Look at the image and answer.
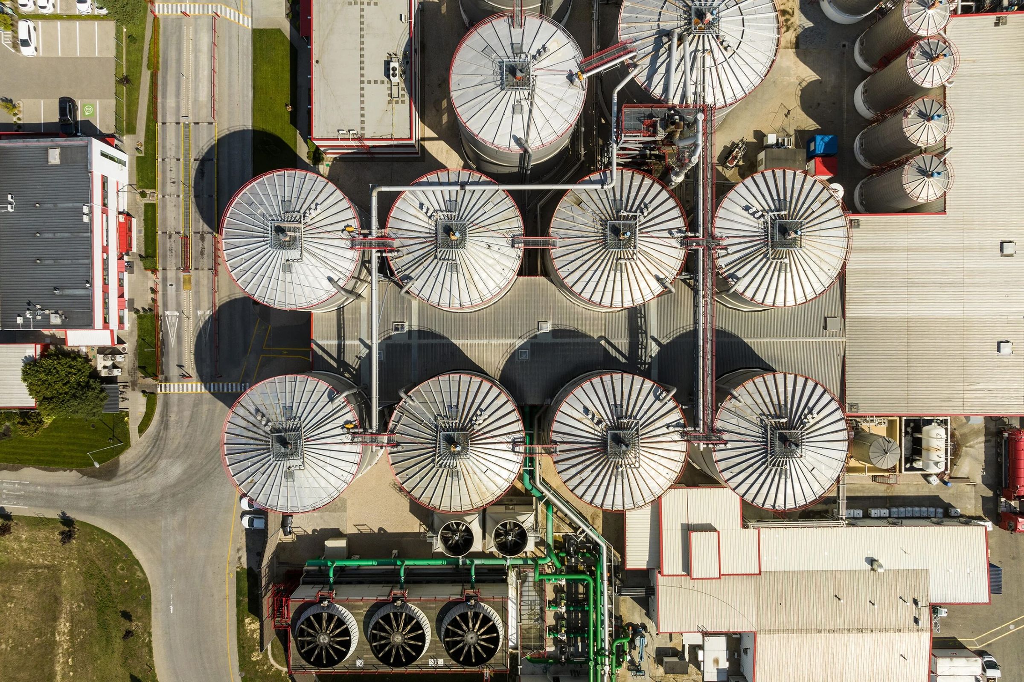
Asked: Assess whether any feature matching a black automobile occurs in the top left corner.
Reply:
Yes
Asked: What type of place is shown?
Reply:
industrial area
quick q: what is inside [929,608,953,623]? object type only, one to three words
work vehicle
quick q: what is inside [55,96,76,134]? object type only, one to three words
car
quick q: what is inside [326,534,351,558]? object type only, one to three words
shed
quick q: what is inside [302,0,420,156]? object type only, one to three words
building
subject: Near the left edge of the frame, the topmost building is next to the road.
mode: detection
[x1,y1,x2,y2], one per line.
[0,132,145,328]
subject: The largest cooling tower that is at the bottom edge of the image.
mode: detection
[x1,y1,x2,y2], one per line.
[287,562,515,677]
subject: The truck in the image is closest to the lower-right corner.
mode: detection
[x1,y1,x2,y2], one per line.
[981,646,1006,682]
